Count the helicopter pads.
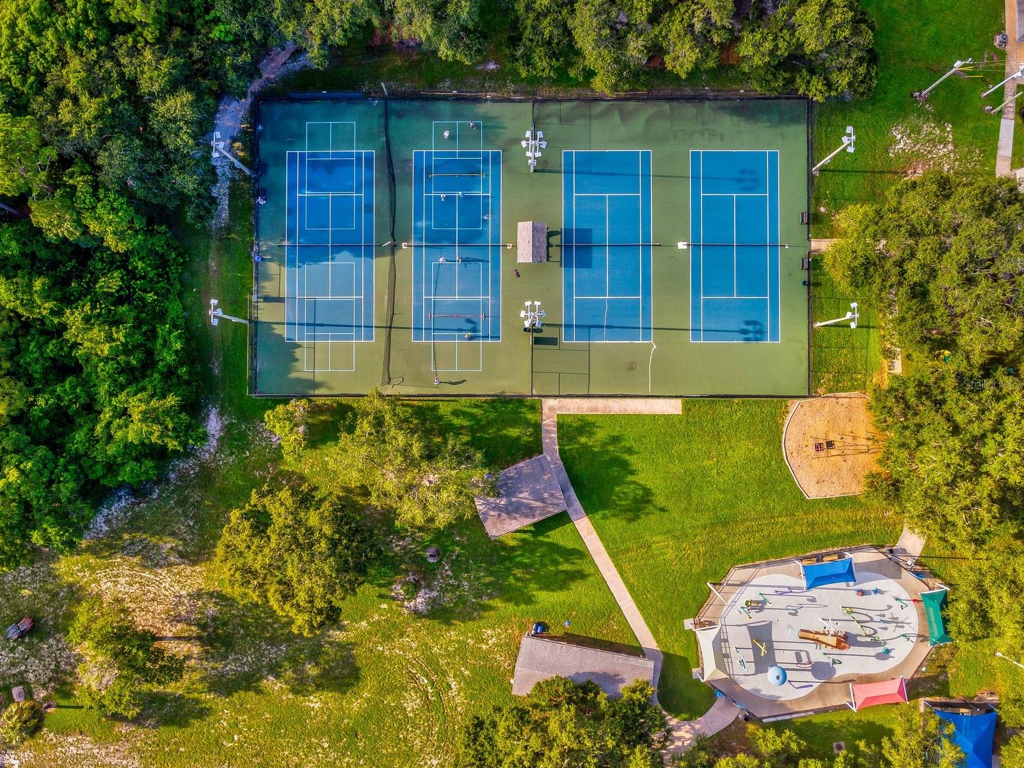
0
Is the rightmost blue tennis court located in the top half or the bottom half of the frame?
top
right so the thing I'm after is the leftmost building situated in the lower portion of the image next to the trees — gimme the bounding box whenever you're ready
[470,454,567,540]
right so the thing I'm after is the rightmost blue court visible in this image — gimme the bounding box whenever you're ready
[691,151,779,341]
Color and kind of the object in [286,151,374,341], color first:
blue tennis court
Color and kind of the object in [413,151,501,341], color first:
blue tennis court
